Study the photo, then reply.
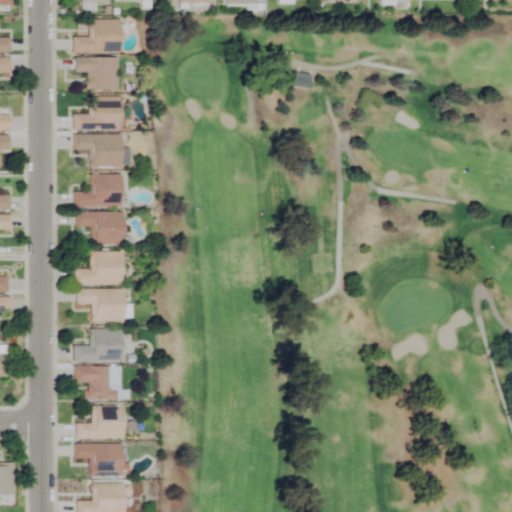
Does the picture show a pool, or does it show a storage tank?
pool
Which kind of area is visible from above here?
golf course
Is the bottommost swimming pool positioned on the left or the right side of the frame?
left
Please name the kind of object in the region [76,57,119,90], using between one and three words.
house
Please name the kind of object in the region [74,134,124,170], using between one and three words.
house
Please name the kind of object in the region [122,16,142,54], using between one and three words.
swimming pool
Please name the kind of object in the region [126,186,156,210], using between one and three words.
swimming pool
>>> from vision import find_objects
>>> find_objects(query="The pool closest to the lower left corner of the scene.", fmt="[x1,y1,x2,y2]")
[130,453,158,478]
